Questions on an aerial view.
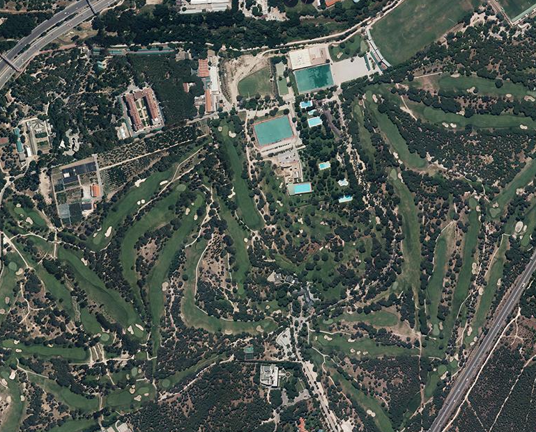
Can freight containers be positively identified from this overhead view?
No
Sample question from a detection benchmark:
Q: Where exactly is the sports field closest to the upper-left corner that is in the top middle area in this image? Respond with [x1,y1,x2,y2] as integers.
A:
[239,66,273,98]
